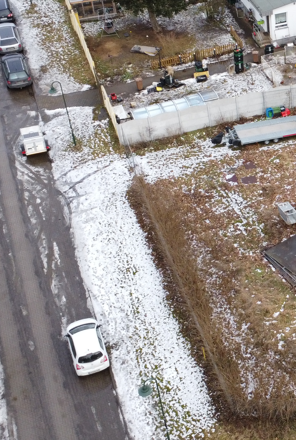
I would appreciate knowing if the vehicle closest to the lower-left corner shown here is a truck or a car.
car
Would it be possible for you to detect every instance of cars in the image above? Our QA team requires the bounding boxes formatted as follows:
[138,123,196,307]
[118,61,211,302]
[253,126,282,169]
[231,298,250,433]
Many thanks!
[60,312,110,376]
[0,0,16,21]
[0,50,34,90]
[0,20,24,55]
